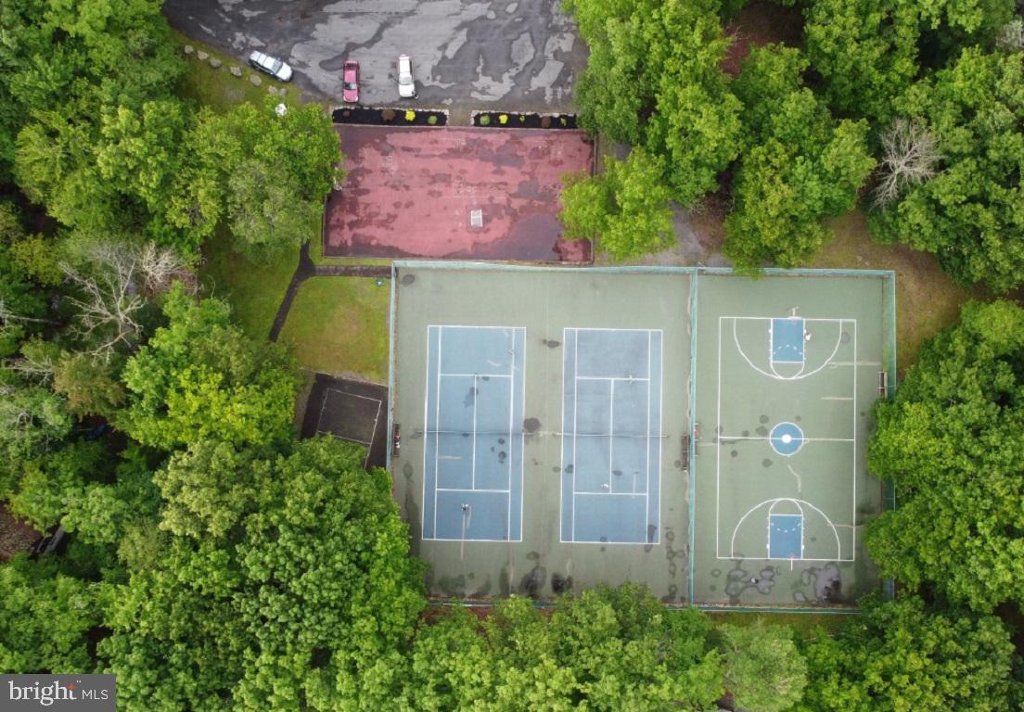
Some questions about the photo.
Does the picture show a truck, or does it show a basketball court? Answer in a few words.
basketball court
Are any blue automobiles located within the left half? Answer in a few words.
No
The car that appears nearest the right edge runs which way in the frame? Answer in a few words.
vertically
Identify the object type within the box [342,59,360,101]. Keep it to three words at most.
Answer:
car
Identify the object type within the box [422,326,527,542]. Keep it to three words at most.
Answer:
tennis court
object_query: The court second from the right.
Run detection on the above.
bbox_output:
[560,328,663,544]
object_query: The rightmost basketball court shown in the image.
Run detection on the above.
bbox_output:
[688,275,882,608]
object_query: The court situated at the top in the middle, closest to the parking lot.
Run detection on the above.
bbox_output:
[322,123,598,262]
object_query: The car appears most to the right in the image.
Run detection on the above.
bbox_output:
[397,52,417,96]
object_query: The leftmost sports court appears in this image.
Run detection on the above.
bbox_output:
[297,372,392,474]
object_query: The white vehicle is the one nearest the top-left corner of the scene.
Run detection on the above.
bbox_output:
[247,47,292,80]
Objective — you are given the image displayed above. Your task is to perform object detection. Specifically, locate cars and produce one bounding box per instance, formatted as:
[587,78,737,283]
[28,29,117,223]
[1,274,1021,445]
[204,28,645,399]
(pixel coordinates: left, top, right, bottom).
[247,47,292,80]
[342,59,360,101]
[397,52,417,96]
